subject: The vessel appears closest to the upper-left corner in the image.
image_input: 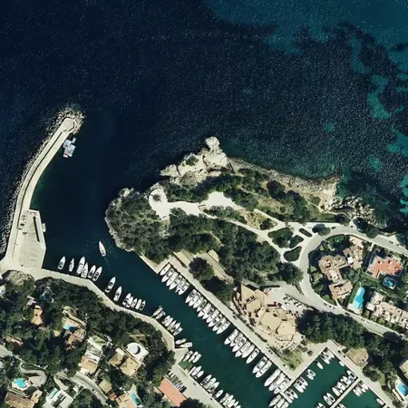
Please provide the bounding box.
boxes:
[62,138,79,157]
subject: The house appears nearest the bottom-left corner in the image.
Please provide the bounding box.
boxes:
[3,376,42,408]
